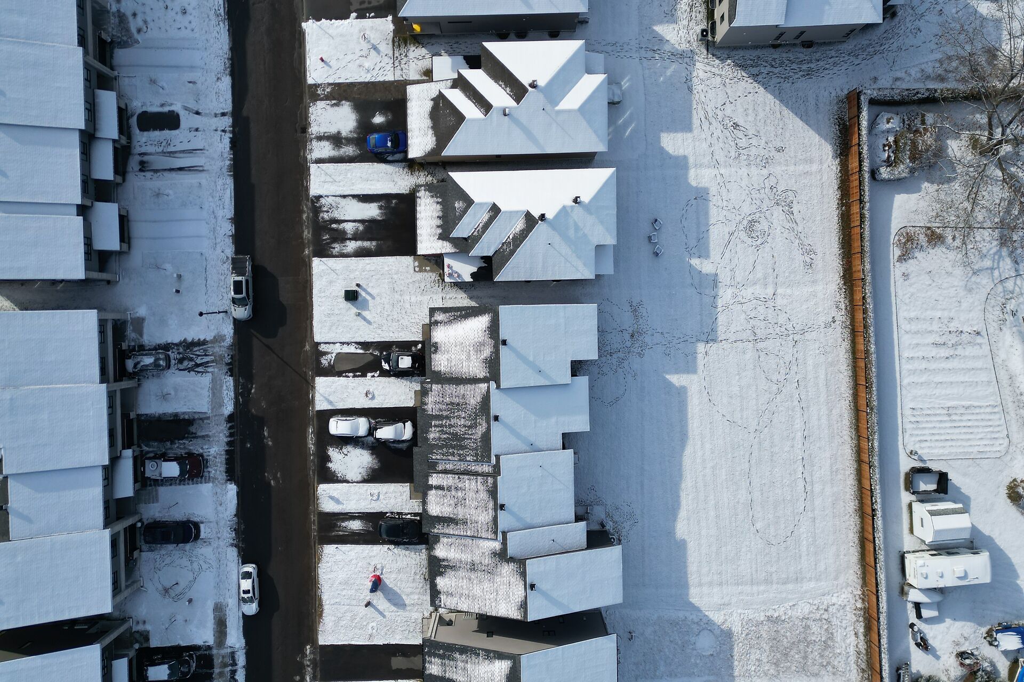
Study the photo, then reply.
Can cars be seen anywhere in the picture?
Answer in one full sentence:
Yes, the frame does contain a car.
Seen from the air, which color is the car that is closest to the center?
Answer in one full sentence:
From above, the car that is closest to the center appears black.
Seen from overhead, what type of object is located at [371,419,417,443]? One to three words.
car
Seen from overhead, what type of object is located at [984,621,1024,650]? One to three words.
boat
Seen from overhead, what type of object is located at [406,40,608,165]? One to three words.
house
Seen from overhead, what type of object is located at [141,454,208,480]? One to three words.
truck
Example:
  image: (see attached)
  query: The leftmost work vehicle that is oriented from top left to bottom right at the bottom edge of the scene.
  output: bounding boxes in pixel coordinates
[907,621,931,649]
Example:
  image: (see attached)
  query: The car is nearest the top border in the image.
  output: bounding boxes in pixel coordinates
[364,130,408,155]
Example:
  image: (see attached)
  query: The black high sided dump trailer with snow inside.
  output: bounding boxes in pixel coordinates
[905,465,950,498]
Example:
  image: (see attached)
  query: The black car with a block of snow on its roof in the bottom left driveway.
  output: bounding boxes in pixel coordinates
[143,652,198,682]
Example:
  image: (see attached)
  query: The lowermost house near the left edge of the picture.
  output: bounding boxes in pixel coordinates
[0,617,140,682]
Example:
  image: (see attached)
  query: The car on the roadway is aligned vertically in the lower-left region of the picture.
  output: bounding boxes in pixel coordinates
[238,562,263,615]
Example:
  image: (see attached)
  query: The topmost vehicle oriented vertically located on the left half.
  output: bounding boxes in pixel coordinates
[228,256,256,320]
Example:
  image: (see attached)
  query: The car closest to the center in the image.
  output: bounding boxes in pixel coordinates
[381,351,425,375]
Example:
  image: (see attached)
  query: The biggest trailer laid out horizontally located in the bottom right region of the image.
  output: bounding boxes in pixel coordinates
[902,553,998,588]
